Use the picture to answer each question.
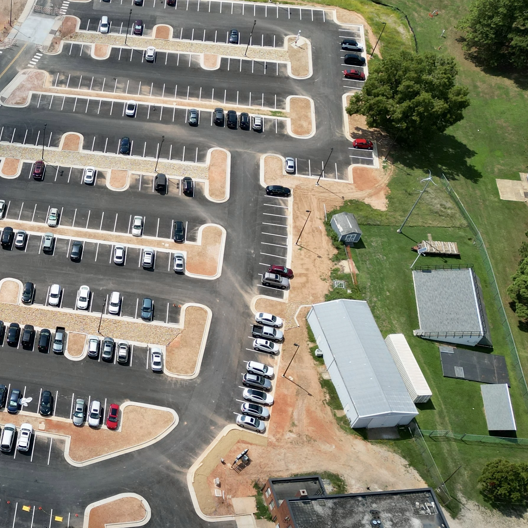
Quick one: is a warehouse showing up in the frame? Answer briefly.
Yes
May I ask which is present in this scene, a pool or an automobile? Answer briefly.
automobile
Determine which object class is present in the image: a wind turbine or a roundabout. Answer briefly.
wind turbine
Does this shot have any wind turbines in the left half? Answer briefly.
No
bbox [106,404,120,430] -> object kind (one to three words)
car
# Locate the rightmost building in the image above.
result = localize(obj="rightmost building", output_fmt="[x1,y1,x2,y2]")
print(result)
[411,265,492,347]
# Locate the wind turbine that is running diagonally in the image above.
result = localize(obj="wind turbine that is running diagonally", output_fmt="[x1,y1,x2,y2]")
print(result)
[395,178,436,234]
